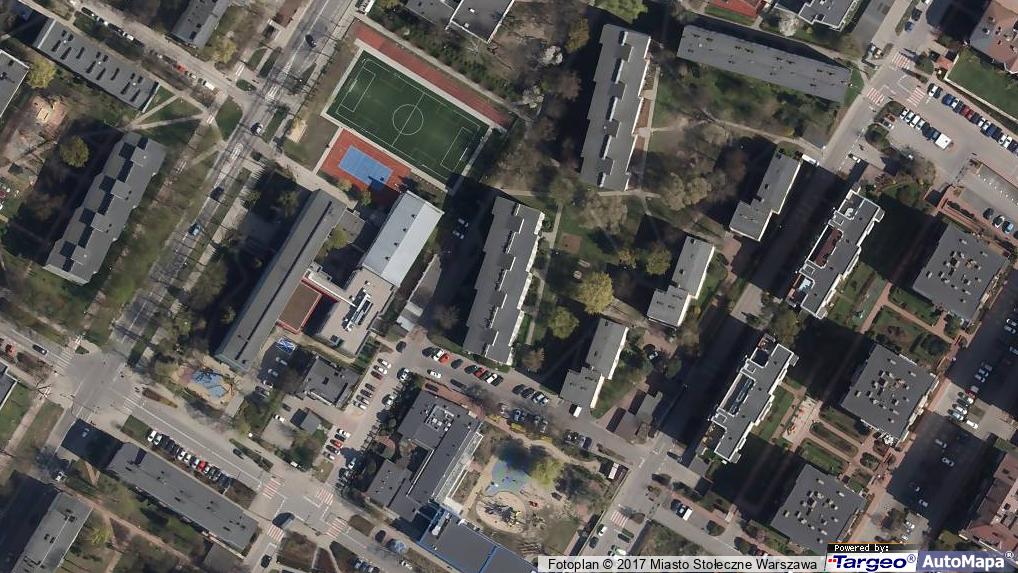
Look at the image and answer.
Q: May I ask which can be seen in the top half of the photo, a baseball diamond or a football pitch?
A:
football pitch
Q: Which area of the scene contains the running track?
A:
top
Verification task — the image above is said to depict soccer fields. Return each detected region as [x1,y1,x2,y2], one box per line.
[316,41,500,200]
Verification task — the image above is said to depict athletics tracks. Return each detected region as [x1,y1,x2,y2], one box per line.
[353,22,509,126]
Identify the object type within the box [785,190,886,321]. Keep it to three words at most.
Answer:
building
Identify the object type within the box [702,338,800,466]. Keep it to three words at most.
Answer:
building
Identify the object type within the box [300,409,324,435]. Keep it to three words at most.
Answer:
shed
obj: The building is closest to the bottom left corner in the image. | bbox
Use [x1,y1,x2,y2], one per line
[12,492,96,573]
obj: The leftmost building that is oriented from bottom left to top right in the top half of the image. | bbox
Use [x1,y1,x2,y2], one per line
[48,132,170,284]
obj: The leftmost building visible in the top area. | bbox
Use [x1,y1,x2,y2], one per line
[0,51,31,116]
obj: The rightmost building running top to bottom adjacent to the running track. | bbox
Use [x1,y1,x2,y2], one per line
[580,25,652,193]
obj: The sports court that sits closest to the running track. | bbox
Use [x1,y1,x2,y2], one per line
[314,126,410,214]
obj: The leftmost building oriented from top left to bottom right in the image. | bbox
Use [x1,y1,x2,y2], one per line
[35,17,160,111]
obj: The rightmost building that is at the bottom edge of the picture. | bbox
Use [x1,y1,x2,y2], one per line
[957,444,1018,571]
